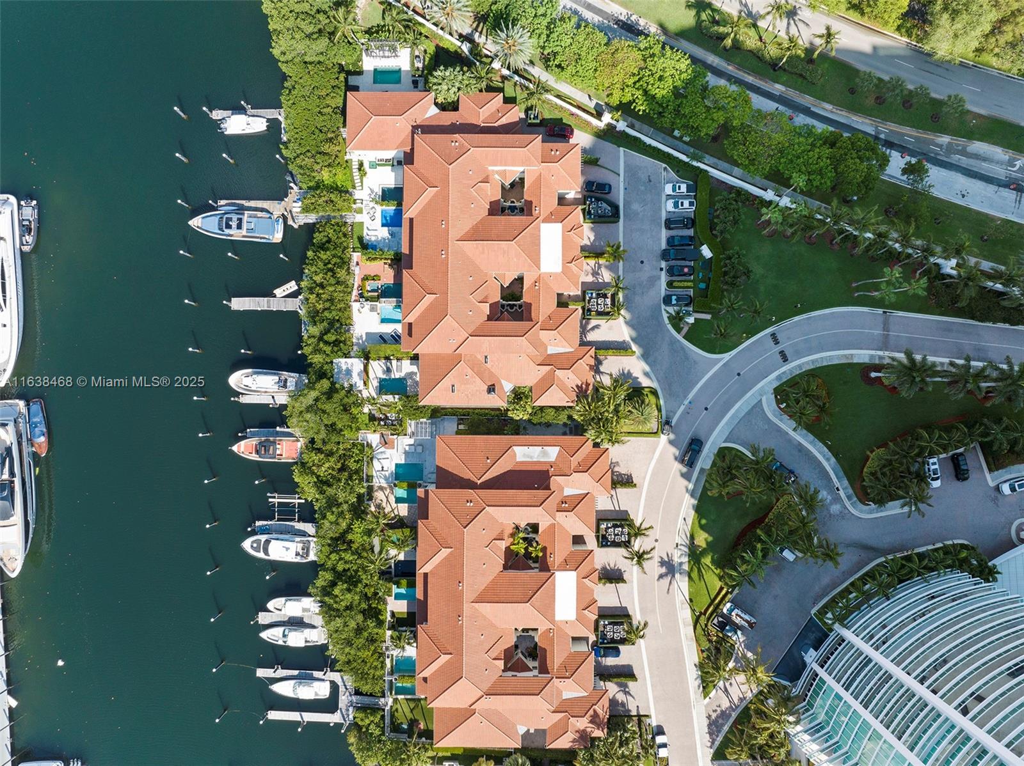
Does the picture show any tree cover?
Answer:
Yes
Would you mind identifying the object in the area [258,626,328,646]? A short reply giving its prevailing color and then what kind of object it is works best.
white boat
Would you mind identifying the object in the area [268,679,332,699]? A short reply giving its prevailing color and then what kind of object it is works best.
white boat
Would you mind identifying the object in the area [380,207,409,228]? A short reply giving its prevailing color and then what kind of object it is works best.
blue swimming pool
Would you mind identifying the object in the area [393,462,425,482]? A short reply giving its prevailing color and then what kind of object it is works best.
blue swimming pool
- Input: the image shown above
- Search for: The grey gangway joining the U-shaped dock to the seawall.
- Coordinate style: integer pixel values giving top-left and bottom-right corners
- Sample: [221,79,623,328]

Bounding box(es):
[353,692,386,708]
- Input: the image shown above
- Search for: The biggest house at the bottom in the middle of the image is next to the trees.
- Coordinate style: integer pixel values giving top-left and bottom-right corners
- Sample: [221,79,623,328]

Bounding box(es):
[417,483,598,712]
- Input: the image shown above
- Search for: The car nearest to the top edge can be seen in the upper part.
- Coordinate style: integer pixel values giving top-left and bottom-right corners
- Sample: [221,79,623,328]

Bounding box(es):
[546,125,574,140]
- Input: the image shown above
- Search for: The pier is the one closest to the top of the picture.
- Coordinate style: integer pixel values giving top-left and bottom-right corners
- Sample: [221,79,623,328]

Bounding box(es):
[211,109,283,136]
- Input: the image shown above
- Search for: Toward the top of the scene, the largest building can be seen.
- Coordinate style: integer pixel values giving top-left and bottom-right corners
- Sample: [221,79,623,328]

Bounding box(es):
[402,134,584,354]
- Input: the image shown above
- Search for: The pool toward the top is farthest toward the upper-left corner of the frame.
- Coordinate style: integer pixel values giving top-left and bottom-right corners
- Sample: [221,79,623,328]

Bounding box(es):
[371,66,403,85]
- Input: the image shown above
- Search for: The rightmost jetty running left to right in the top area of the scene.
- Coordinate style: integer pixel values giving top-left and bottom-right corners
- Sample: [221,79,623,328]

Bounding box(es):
[293,198,356,225]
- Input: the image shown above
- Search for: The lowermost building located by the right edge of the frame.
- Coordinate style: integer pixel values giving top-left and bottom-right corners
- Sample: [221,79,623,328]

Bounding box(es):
[782,574,1024,766]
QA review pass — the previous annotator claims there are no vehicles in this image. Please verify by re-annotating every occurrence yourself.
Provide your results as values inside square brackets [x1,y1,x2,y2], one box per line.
[663,293,691,306]
[721,601,757,631]
[546,125,574,140]
[661,418,672,436]
[666,234,693,248]
[666,197,695,212]
[922,456,941,487]
[681,436,700,468]
[664,216,693,230]
[654,734,668,766]
[584,179,612,194]
[707,616,739,643]
[666,264,693,278]
[949,452,969,480]
[996,478,1024,495]
[664,181,696,196]
[660,247,698,262]
[593,645,619,659]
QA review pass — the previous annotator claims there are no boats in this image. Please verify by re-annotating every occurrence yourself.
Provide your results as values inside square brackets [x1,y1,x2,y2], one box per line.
[186,207,286,240]
[240,535,323,562]
[258,626,328,646]
[21,195,40,252]
[266,597,329,616]
[272,283,299,298]
[227,368,308,395]
[217,110,271,133]
[0,399,37,578]
[29,398,50,456]
[268,679,332,699]
[0,192,26,380]
[226,438,303,460]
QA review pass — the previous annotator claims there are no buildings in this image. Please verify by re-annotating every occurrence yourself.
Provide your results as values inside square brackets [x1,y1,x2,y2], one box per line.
[782,574,1024,766]
[402,134,584,354]
[417,483,598,712]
